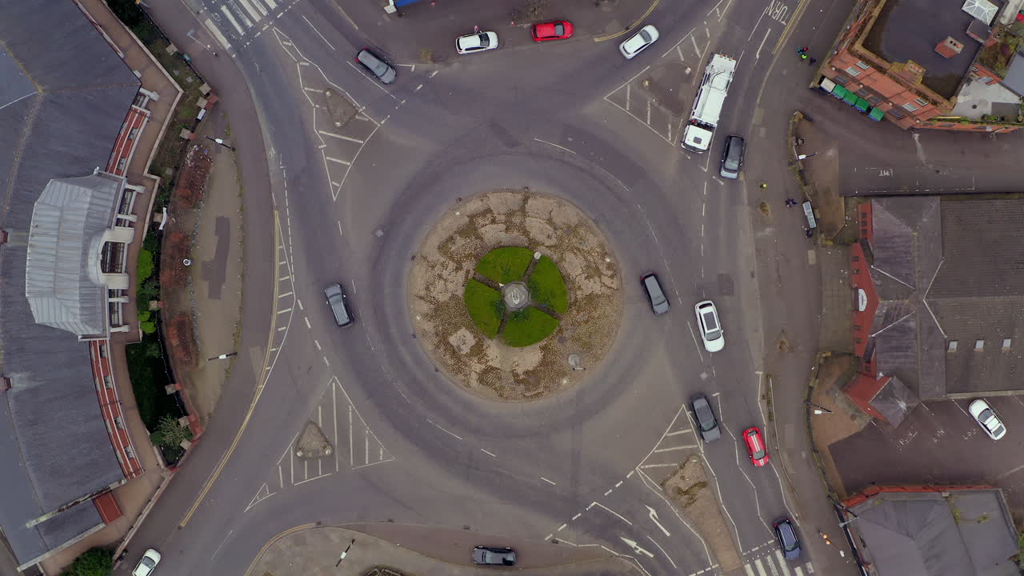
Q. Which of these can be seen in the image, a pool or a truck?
truck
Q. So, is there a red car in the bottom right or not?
Yes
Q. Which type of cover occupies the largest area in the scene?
paved ground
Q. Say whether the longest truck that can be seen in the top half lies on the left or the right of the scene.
right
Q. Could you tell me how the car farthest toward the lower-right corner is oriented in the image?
on a diagonal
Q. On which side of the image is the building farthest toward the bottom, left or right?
right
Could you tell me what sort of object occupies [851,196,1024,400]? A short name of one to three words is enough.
building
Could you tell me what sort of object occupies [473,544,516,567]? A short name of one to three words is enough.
car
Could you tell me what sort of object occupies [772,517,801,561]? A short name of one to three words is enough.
car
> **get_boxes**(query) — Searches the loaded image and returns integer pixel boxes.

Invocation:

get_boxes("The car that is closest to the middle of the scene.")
[640,272,668,315]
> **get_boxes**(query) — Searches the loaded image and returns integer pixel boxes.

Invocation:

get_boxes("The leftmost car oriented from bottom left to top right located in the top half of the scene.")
[619,25,660,61]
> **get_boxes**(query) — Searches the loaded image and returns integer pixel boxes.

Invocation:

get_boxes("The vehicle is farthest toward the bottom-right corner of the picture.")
[967,398,1008,442]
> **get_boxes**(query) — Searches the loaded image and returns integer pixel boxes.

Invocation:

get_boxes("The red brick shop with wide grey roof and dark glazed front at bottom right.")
[837,481,1024,576]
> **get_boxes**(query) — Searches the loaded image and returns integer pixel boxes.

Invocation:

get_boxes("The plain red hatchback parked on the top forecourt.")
[531,20,573,43]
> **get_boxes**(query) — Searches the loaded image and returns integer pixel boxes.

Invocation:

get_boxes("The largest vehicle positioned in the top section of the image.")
[680,51,737,158]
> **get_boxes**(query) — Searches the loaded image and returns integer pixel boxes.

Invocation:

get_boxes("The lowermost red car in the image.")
[741,426,768,466]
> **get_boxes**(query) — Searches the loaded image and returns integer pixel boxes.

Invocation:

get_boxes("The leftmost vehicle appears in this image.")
[129,548,163,576]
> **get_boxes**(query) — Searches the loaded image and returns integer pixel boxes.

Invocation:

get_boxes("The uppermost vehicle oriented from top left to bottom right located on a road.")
[355,48,397,86]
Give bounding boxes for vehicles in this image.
[129,548,163,576]
[325,283,352,328]
[531,20,573,43]
[719,134,743,180]
[741,426,768,466]
[619,25,660,61]
[355,48,397,86]
[694,300,724,351]
[455,30,500,56]
[640,272,668,315]
[690,394,720,442]
[680,51,737,158]
[772,517,801,561]
[967,398,1008,442]
[473,544,516,567]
